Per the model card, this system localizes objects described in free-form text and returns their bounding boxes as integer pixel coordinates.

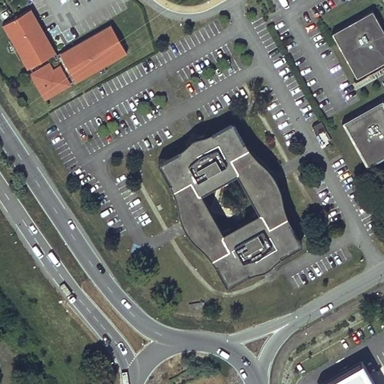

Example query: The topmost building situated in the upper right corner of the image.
[332,13,384,81]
